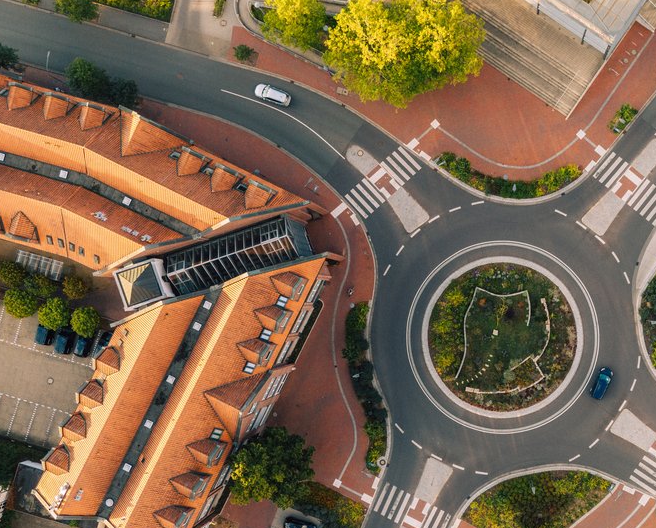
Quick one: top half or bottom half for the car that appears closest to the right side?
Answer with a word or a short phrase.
bottom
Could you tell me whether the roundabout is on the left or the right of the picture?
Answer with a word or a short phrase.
right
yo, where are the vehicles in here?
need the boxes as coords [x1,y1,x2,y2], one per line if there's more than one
[254,83,294,108]
[282,515,318,528]
[34,320,55,347]
[52,320,75,355]
[73,330,96,360]
[589,366,611,399]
